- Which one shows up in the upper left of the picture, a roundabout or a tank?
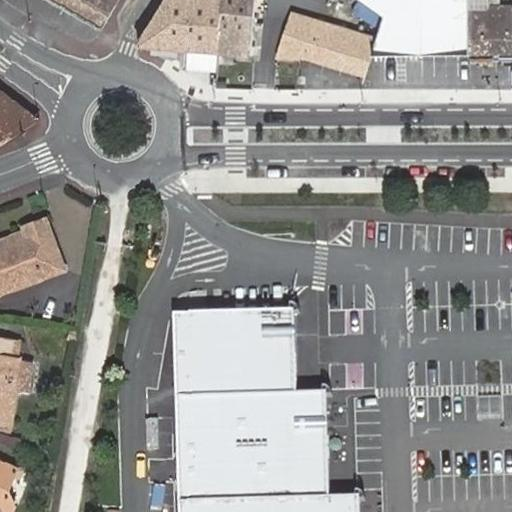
roundabout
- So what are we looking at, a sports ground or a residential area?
residential area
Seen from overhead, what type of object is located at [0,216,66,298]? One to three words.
house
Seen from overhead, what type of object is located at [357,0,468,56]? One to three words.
building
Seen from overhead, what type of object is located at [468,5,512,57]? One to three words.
building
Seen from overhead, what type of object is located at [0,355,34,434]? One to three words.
house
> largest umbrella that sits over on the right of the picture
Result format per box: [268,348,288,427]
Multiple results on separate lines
[329,437,342,451]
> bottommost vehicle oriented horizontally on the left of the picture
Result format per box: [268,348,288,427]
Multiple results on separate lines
[180,290,208,302]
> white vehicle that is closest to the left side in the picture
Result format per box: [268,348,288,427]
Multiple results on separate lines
[43,298,56,318]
